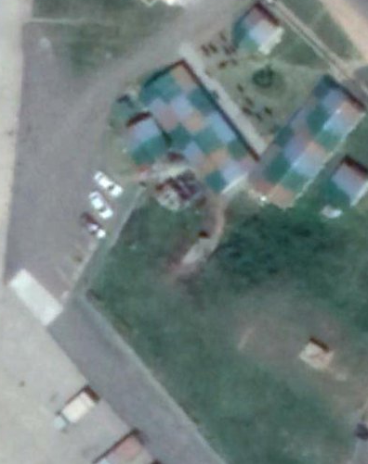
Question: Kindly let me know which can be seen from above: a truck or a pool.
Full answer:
It is a truck that can be seen here.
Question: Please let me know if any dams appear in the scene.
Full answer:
No, no dam is visible in the scene.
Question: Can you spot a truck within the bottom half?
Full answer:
Yes, a truck shows up within the bottom half.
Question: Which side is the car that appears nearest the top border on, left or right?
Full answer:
The car that appears nearest the top border appears in the left half of the scene.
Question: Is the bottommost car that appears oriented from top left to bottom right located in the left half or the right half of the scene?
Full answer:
It is on the left.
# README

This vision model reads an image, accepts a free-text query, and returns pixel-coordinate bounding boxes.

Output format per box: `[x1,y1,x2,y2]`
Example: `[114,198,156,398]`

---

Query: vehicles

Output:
[52,388,98,430]
[81,212,106,237]
[95,170,122,196]
[89,190,112,218]
[98,434,146,464]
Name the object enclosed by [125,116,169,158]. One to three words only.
shed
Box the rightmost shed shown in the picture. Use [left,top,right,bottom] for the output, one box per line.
[324,162,368,210]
